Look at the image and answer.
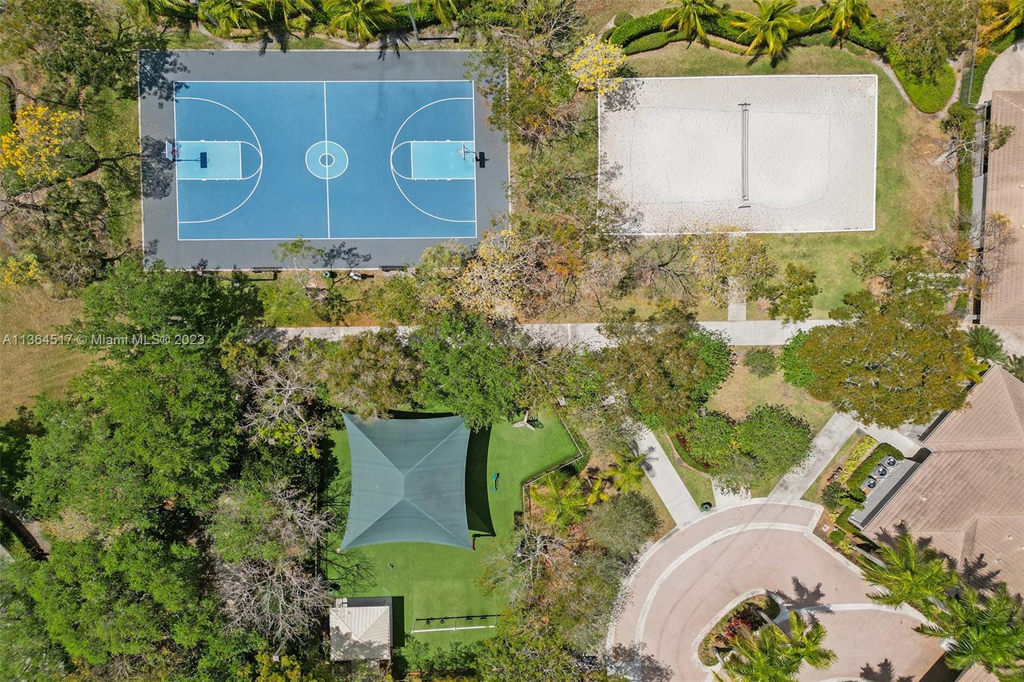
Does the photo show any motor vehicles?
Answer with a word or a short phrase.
No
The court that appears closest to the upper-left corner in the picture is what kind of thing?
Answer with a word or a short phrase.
basketball court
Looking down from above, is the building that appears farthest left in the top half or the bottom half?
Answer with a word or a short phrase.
bottom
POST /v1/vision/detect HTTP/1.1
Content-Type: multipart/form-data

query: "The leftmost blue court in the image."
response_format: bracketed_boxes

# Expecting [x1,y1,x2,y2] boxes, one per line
[138,48,513,270]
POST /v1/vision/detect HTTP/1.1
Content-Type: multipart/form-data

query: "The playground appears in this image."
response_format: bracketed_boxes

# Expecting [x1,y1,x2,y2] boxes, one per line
[319,404,577,675]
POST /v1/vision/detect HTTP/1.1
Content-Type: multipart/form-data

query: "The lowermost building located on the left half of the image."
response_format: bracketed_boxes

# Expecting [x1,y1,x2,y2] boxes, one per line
[330,596,393,661]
